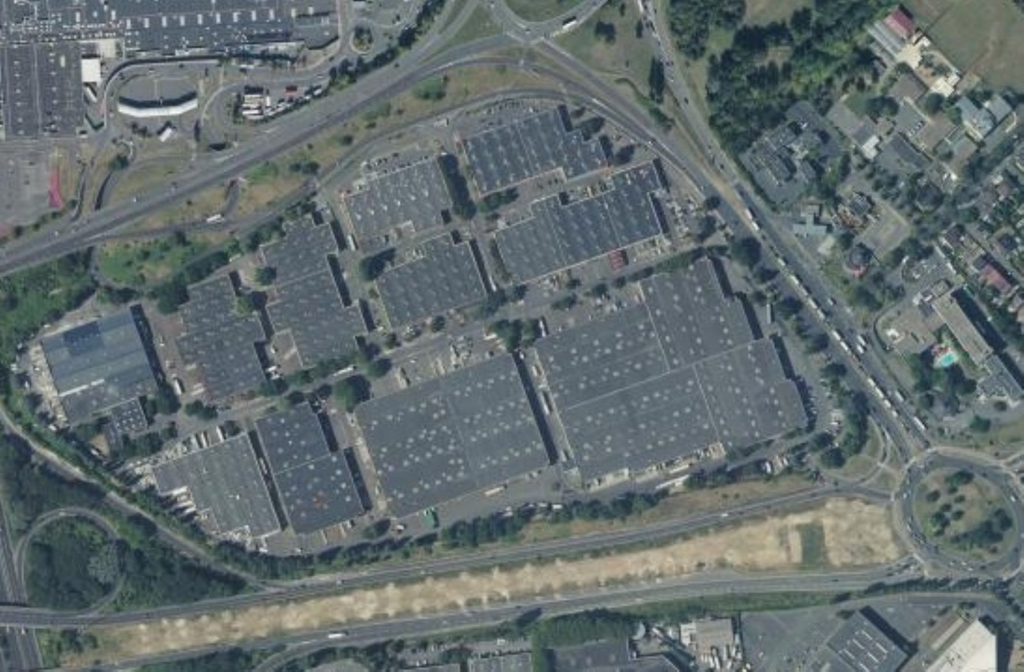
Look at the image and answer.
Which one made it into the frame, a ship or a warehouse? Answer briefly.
warehouse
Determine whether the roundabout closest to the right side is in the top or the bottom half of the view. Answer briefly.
bottom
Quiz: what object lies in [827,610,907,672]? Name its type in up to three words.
building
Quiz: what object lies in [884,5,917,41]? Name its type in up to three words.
barn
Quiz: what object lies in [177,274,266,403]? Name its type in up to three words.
building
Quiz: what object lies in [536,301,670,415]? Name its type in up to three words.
warehouse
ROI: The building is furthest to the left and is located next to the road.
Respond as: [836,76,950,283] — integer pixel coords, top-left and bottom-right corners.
[1,41,87,140]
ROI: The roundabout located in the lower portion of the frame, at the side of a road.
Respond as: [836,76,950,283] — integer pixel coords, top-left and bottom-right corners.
[892,441,1024,584]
